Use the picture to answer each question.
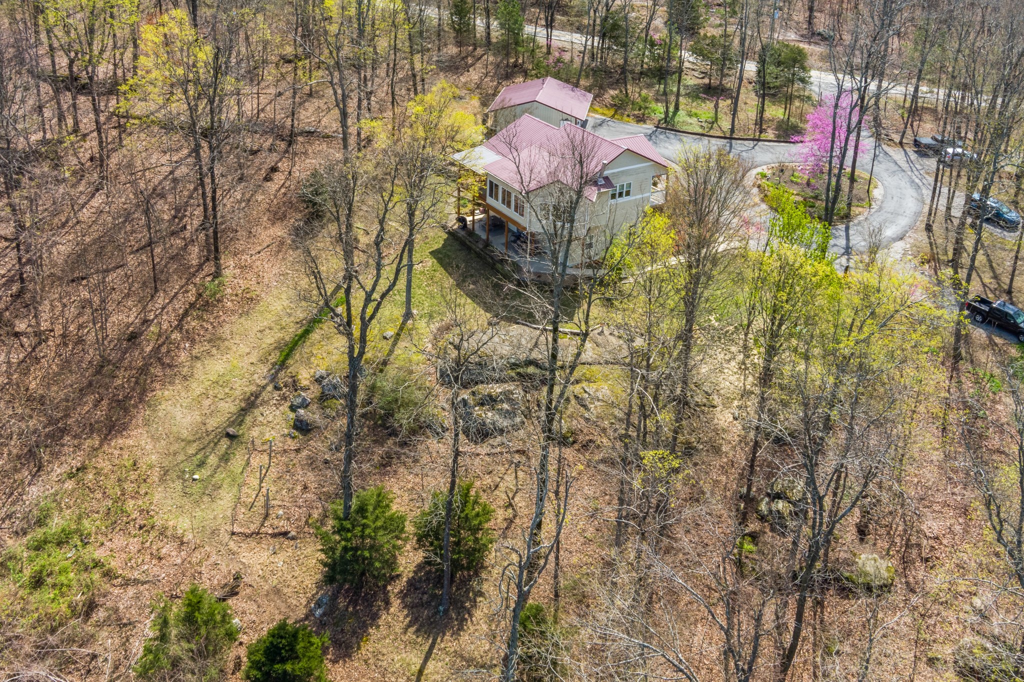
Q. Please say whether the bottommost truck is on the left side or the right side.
right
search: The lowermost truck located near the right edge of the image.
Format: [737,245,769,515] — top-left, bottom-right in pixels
[962,290,1024,337]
